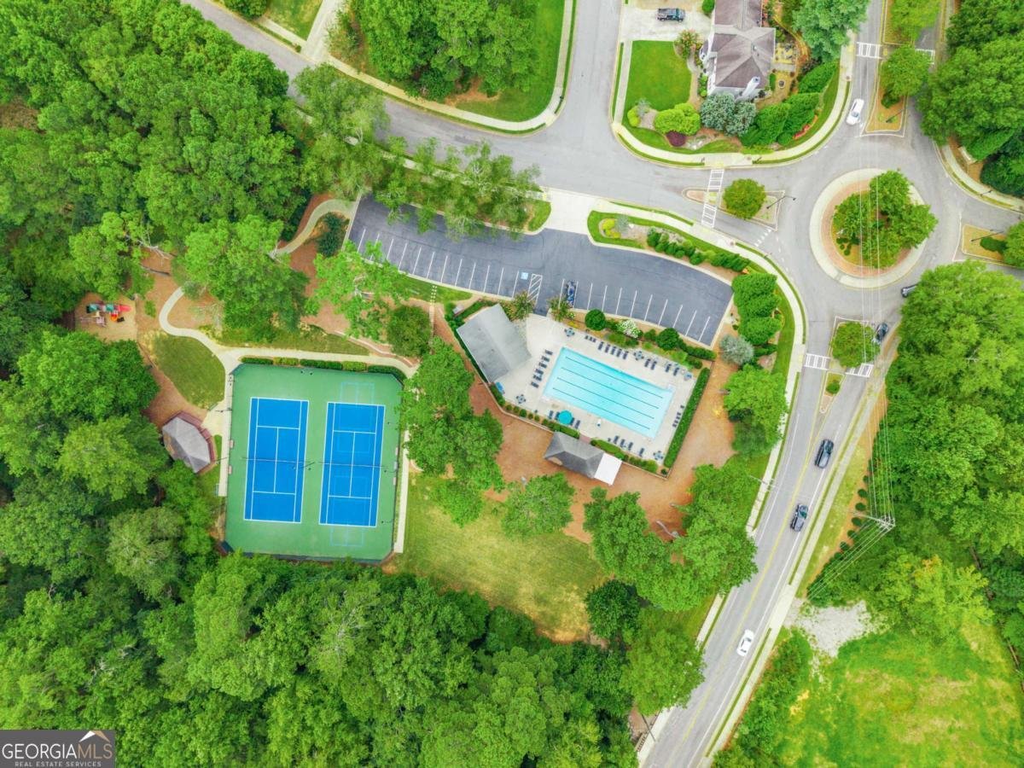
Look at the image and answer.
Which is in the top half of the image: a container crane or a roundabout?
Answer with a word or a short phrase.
roundabout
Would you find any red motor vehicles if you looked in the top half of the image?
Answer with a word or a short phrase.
No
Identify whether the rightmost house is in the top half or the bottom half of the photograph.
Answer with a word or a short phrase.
top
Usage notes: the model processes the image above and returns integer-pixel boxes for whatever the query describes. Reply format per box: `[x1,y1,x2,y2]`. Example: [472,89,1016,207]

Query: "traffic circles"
[809,167,928,288]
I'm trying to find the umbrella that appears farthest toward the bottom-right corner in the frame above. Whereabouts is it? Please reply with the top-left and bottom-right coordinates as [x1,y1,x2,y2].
[560,411,573,424]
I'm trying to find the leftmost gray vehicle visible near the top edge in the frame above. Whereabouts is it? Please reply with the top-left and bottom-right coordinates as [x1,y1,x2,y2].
[655,9,684,24]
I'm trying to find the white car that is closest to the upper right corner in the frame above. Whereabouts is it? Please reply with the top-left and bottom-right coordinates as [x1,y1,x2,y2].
[843,99,863,126]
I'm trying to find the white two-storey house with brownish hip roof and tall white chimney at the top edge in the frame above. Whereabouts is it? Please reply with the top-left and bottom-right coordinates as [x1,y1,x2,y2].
[698,0,776,103]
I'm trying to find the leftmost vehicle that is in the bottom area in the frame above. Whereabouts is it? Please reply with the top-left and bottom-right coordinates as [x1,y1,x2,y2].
[736,628,753,655]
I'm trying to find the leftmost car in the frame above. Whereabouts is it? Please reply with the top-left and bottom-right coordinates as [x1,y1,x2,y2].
[564,280,576,306]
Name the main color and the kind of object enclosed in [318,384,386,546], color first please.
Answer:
blue tennis court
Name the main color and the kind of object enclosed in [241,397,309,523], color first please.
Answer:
blue tennis court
